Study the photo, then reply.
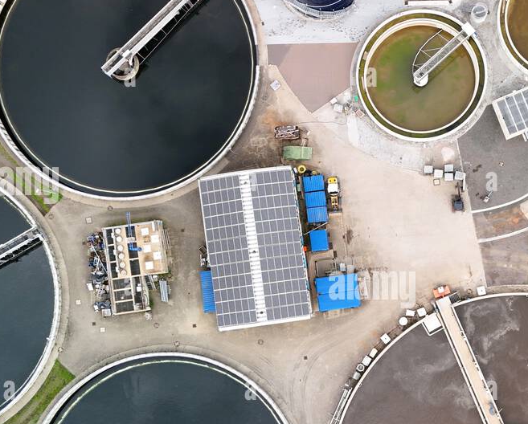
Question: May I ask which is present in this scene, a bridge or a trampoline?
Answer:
bridge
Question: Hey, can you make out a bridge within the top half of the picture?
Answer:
Yes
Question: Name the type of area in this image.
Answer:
industrial area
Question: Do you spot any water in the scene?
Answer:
Yes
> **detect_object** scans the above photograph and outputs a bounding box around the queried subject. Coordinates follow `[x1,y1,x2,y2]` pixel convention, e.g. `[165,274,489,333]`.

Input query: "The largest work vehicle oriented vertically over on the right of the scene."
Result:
[326,174,340,214]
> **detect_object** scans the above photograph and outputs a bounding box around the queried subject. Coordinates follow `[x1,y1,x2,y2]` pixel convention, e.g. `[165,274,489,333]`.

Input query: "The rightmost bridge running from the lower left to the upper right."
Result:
[412,20,483,87]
